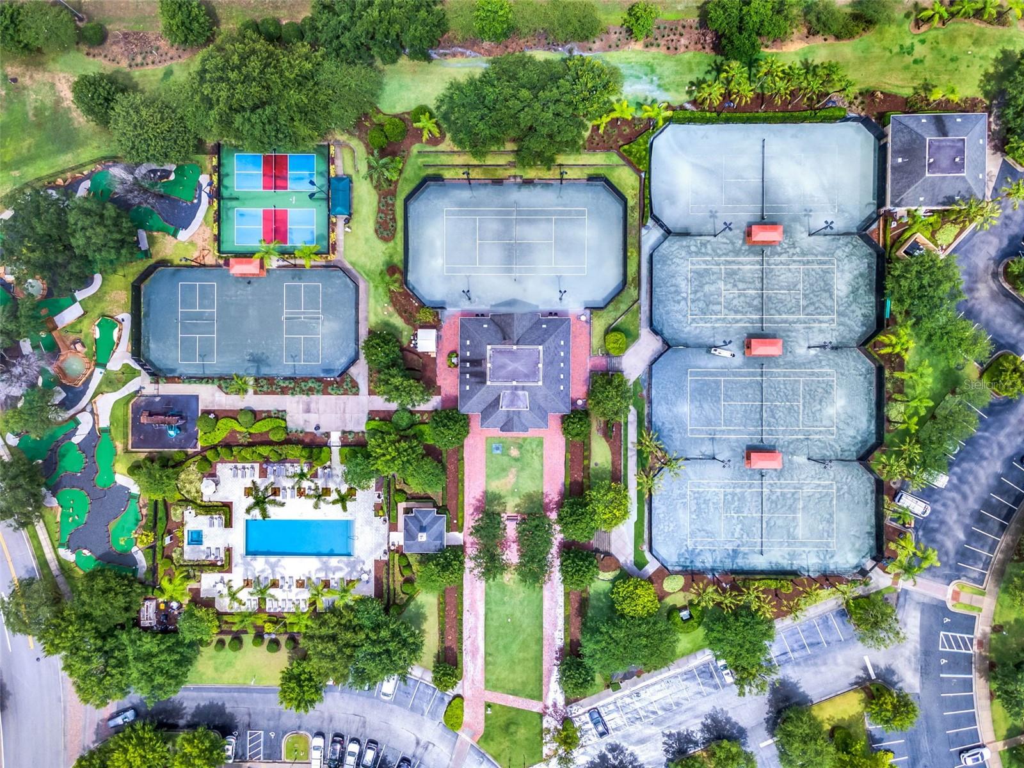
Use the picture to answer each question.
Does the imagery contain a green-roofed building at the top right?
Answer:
No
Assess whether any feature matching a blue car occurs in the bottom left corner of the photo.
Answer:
Yes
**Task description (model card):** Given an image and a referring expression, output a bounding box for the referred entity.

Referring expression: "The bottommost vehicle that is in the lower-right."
[957,745,989,765]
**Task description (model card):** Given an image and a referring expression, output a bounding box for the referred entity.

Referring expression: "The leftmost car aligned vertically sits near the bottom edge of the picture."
[225,732,240,763]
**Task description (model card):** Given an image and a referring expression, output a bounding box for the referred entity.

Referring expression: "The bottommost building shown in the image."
[403,508,447,553]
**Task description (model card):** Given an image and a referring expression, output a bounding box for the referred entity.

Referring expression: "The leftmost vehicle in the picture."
[107,705,139,728]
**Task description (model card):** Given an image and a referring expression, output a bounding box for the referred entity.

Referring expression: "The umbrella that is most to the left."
[202,480,216,495]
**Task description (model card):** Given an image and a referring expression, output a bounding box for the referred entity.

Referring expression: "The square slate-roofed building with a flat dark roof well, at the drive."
[883,113,988,209]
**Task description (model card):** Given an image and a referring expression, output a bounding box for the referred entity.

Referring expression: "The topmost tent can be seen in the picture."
[417,329,438,352]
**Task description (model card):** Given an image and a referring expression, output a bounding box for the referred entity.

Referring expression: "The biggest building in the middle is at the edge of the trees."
[459,314,571,432]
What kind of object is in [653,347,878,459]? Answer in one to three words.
tennis court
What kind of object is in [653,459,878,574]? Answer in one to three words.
tennis court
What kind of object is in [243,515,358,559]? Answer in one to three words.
swimming pool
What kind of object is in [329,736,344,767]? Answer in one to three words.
car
